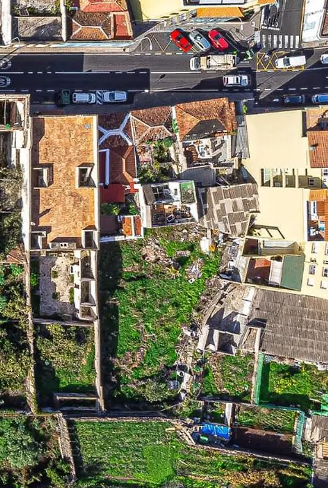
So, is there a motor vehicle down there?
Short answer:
Yes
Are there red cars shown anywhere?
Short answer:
Yes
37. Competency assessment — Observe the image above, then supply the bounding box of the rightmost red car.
[207,28,230,52]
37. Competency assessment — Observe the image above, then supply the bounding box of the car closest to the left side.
[71,92,96,104]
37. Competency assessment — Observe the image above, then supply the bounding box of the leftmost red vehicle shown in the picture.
[168,29,191,54]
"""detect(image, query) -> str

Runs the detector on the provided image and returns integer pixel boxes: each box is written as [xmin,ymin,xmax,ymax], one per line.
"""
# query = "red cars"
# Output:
[168,29,191,54]
[207,28,230,52]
